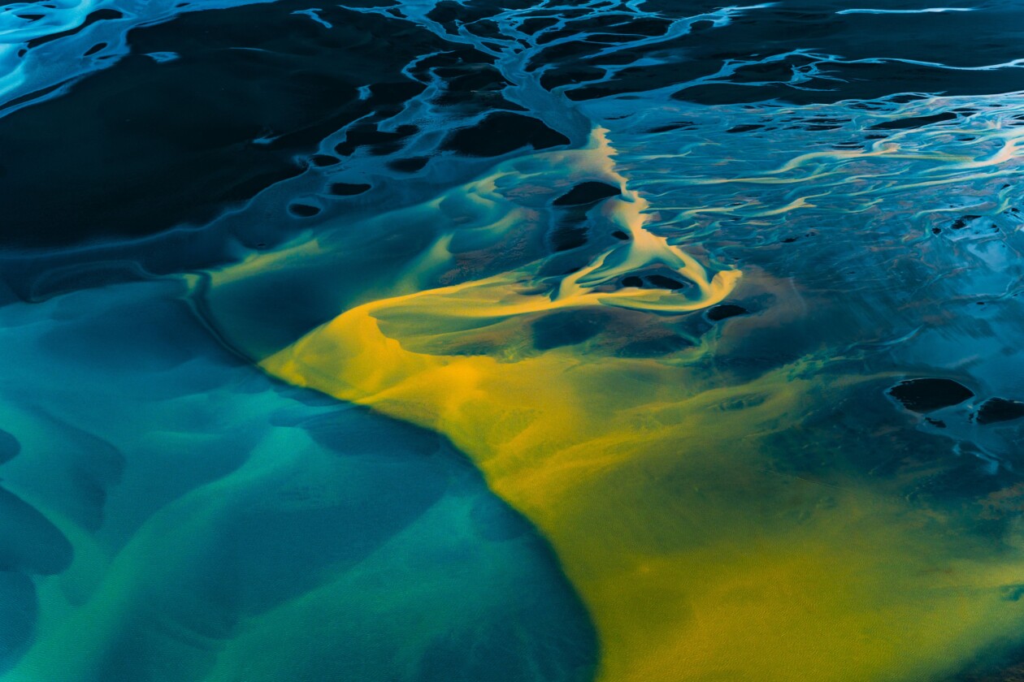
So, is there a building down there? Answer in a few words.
No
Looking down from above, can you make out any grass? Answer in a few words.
No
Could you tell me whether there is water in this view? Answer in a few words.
Yes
